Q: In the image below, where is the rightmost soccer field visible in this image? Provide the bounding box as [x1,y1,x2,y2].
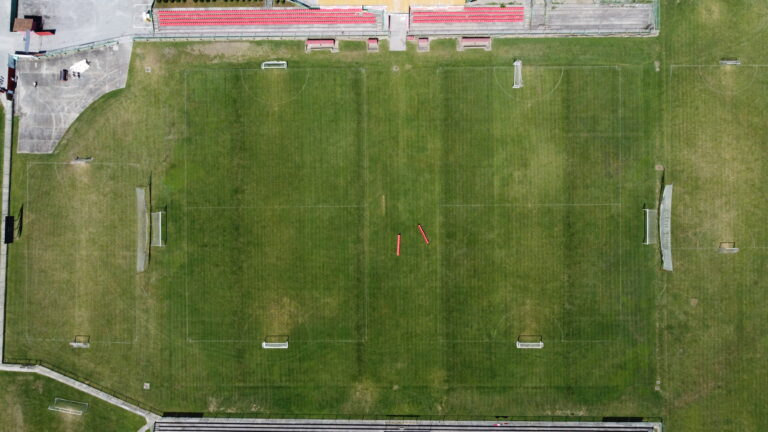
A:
[671,65,768,249]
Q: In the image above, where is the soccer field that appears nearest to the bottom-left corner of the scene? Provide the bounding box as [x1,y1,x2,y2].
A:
[27,163,137,344]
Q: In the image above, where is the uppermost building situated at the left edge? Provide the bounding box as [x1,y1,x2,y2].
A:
[12,18,42,37]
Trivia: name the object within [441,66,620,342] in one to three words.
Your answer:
soccer field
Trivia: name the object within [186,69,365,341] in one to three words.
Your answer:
soccer field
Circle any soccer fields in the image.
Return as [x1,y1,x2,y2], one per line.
[671,65,768,249]
[27,163,137,344]
[166,68,646,387]
[441,66,620,342]
[186,69,365,341]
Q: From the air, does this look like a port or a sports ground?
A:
sports ground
